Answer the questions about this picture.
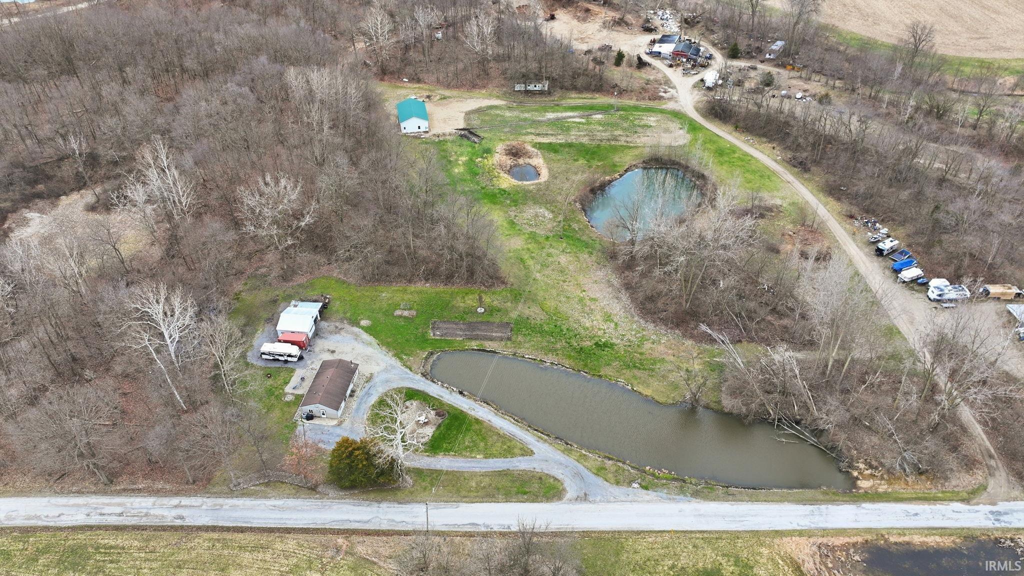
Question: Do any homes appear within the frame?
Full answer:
Yes, there's a home down there.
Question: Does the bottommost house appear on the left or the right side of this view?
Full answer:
It is on the left.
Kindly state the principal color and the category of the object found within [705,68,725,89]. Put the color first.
white vehicle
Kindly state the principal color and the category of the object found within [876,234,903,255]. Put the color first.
white vehicle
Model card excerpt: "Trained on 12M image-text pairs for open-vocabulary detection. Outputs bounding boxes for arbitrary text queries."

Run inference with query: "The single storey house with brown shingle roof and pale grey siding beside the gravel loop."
[298,358,354,418]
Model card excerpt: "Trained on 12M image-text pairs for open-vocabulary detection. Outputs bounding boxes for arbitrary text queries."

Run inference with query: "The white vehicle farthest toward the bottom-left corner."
[260,340,302,363]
